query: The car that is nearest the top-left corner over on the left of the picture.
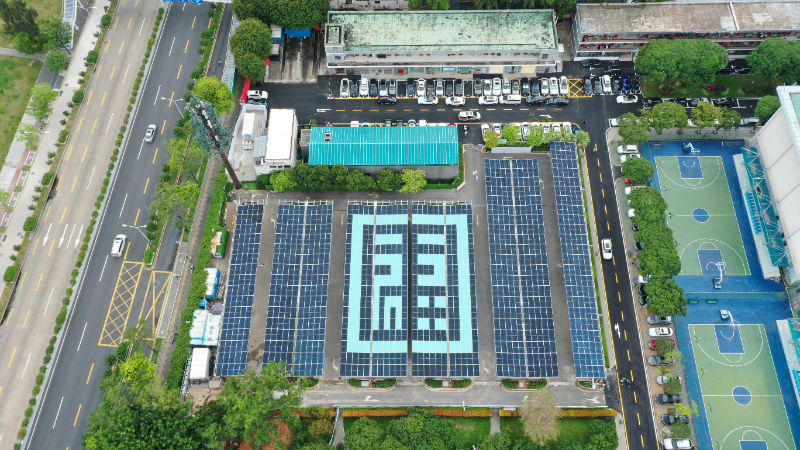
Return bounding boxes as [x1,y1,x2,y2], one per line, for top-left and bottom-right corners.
[145,124,157,142]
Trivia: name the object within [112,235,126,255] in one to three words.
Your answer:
car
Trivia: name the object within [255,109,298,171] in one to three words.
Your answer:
house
